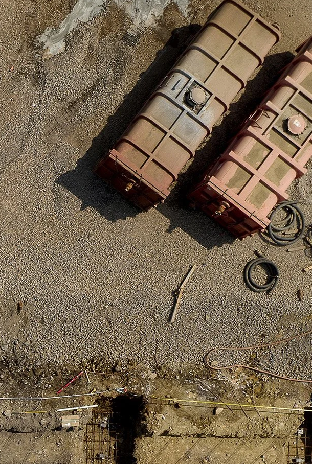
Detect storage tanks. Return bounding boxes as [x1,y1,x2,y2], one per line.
[187,35,312,236]
[92,2,283,211]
